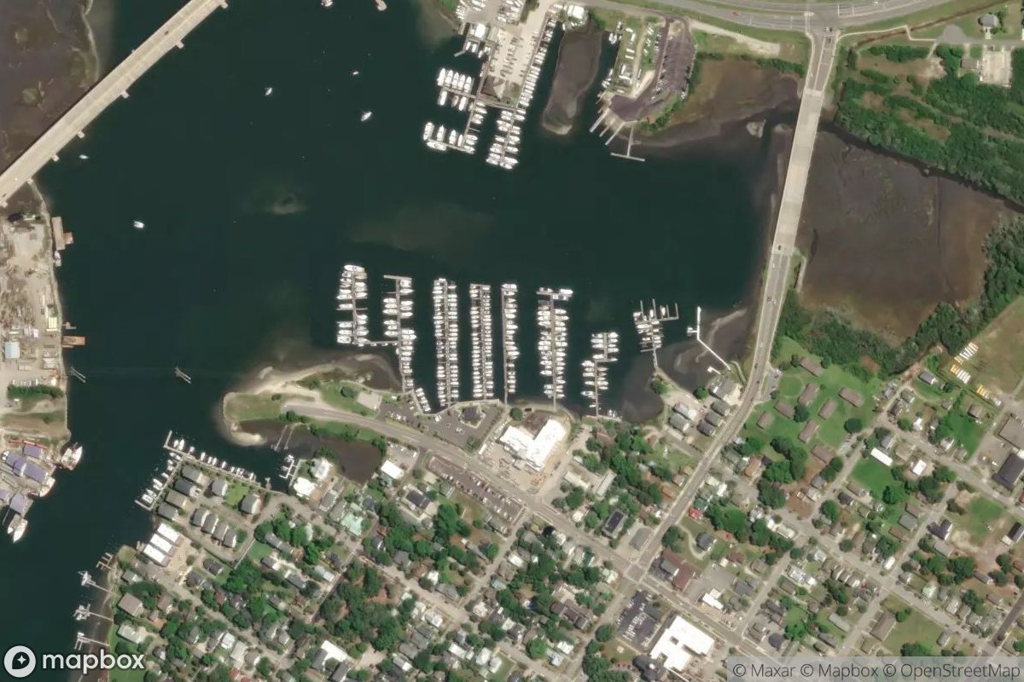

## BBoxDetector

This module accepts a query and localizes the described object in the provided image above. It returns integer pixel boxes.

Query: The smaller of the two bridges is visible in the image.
[772,86,824,255]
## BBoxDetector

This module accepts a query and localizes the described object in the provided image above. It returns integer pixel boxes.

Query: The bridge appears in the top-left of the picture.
[0,0,231,207]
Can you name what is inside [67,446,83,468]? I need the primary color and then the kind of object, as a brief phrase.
white vessel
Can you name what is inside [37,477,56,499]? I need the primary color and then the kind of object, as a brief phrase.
white vessel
